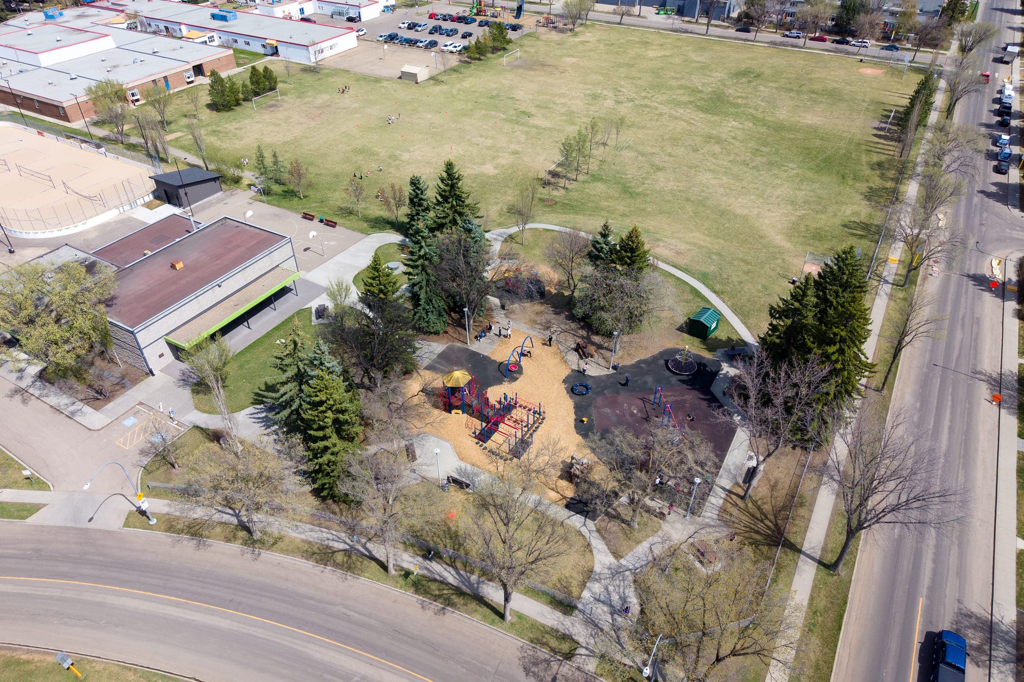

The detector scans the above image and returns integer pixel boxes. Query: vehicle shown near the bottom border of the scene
[930,631,974,682]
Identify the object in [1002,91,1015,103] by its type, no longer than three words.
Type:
vehicle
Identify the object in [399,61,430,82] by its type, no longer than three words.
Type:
shed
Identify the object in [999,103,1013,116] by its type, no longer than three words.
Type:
vehicle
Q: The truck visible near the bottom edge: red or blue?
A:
blue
